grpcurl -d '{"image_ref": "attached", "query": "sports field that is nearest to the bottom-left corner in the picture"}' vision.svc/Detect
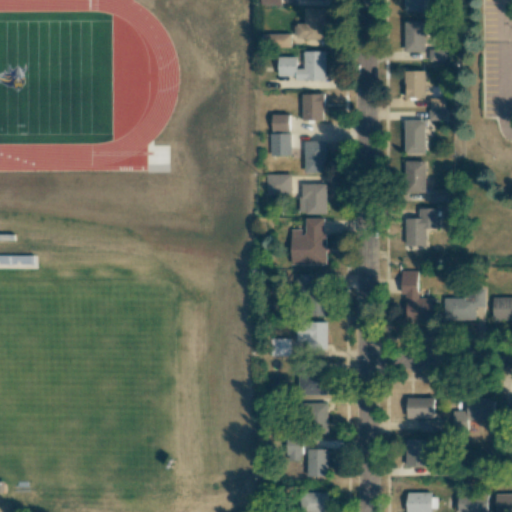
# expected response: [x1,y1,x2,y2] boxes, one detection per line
[0,262,181,512]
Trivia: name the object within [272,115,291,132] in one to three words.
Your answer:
building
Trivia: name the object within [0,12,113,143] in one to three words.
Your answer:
sports field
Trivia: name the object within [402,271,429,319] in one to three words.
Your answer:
house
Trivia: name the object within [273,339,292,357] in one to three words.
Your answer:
shed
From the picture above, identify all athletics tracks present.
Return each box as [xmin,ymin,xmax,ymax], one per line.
[0,0,180,171]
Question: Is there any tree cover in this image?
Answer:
Yes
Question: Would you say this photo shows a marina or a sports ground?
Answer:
sports ground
